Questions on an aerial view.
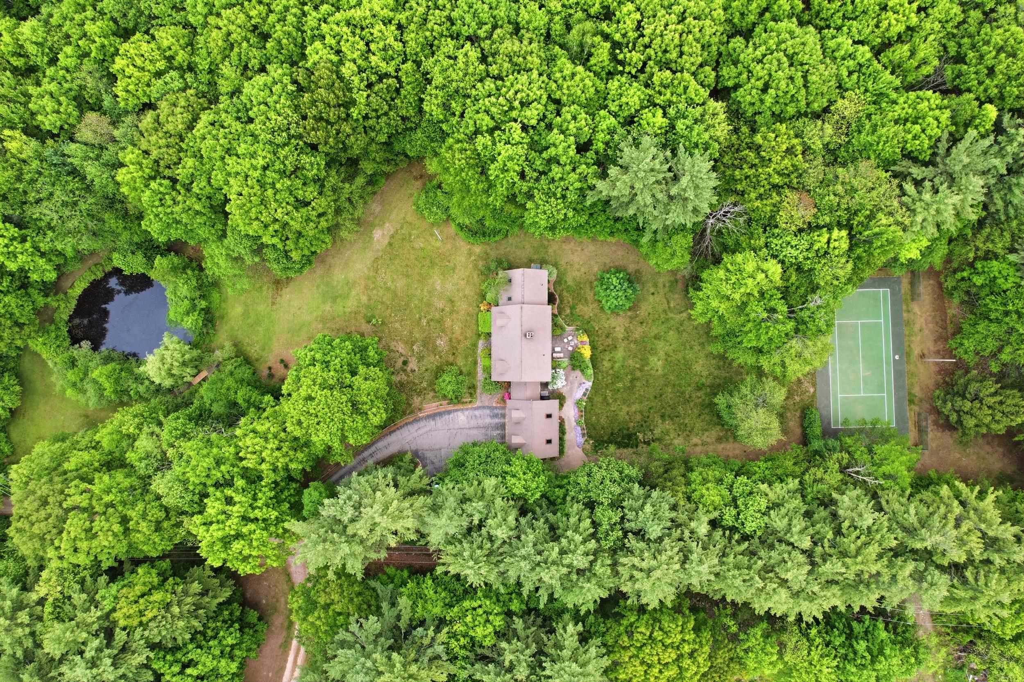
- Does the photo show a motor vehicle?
No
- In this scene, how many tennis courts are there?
one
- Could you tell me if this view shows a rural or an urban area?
rural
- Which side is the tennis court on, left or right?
right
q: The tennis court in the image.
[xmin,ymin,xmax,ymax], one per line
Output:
[814,277,913,445]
